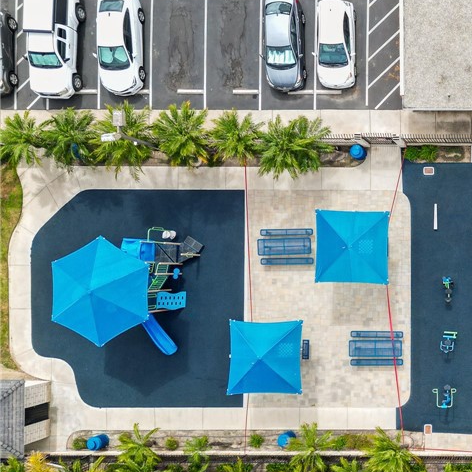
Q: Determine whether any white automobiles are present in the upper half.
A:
Yes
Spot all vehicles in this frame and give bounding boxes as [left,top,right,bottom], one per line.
[311,0,359,89]
[91,0,148,97]
[22,0,87,98]
[259,0,309,96]
[0,4,19,98]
